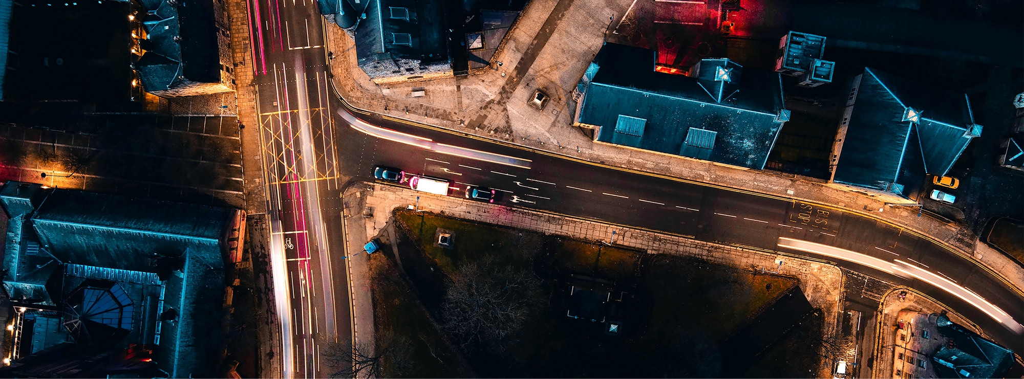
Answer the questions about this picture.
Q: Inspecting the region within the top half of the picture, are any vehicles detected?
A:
Yes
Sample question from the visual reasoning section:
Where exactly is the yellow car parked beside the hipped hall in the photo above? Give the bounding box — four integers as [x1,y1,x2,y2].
[935,174,966,190]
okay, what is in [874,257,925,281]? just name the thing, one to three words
vehicle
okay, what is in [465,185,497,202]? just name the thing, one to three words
car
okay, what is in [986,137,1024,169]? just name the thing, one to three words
house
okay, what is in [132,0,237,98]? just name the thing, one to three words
building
